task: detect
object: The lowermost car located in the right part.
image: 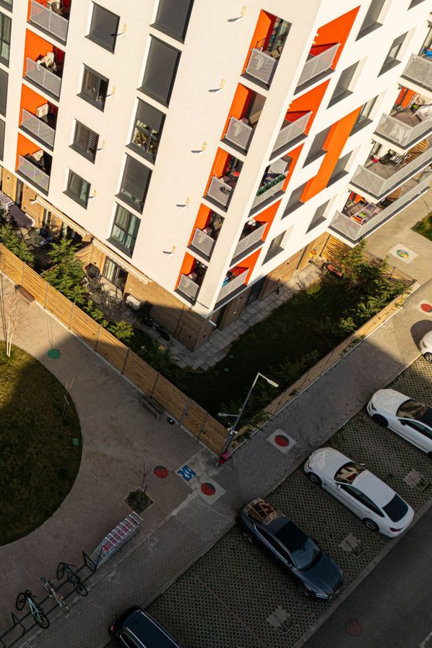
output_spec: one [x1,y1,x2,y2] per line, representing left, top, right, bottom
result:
[233,494,349,602]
